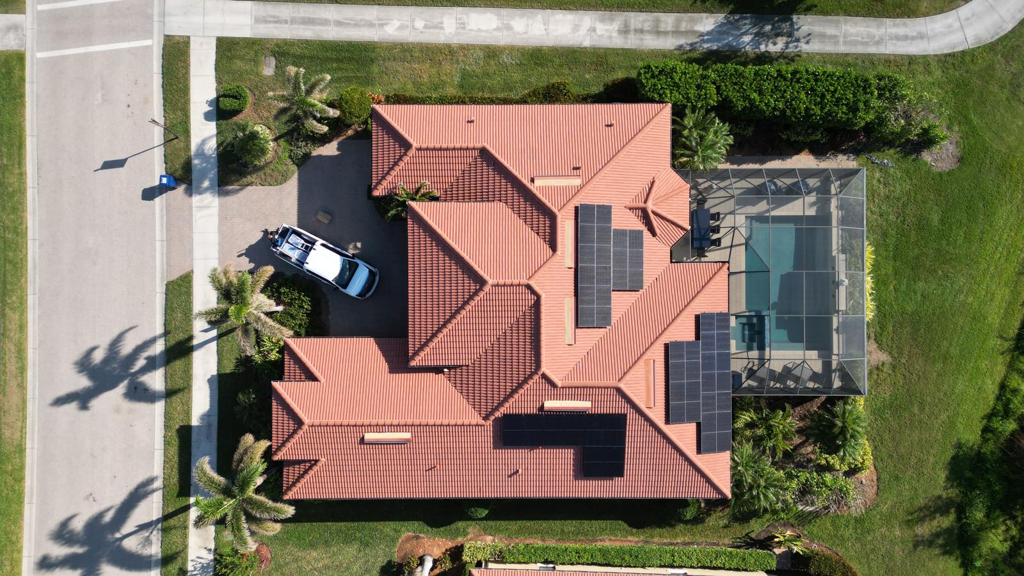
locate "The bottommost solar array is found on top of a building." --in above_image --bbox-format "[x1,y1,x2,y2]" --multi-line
[498,416,631,480]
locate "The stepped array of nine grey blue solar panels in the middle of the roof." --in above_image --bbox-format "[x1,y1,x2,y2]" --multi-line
[580,199,647,331]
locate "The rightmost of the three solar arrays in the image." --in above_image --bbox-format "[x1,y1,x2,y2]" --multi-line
[671,309,734,458]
